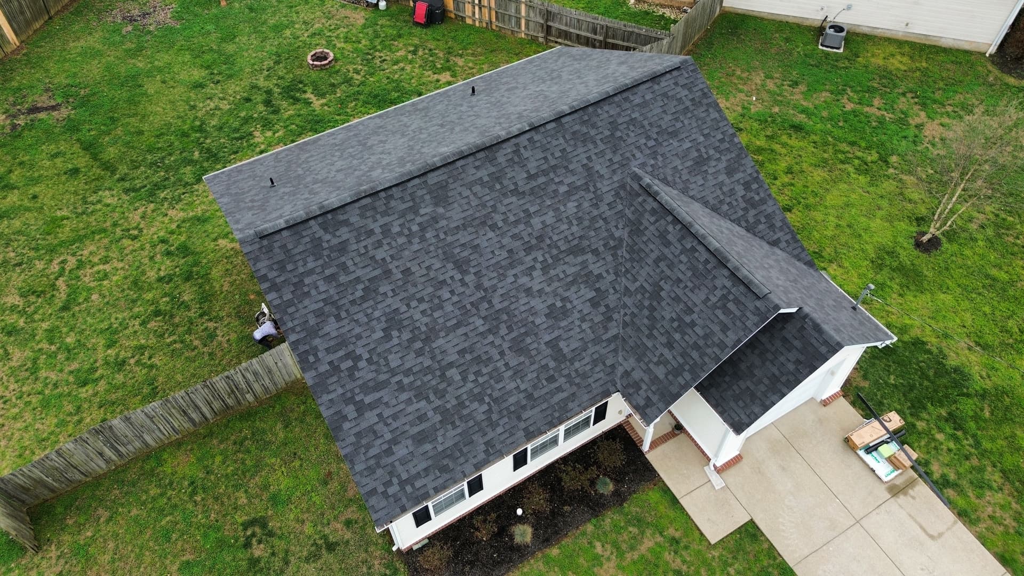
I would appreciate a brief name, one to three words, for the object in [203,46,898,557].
house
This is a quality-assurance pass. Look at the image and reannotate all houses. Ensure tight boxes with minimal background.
[722,0,1024,53]
[203,46,898,557]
